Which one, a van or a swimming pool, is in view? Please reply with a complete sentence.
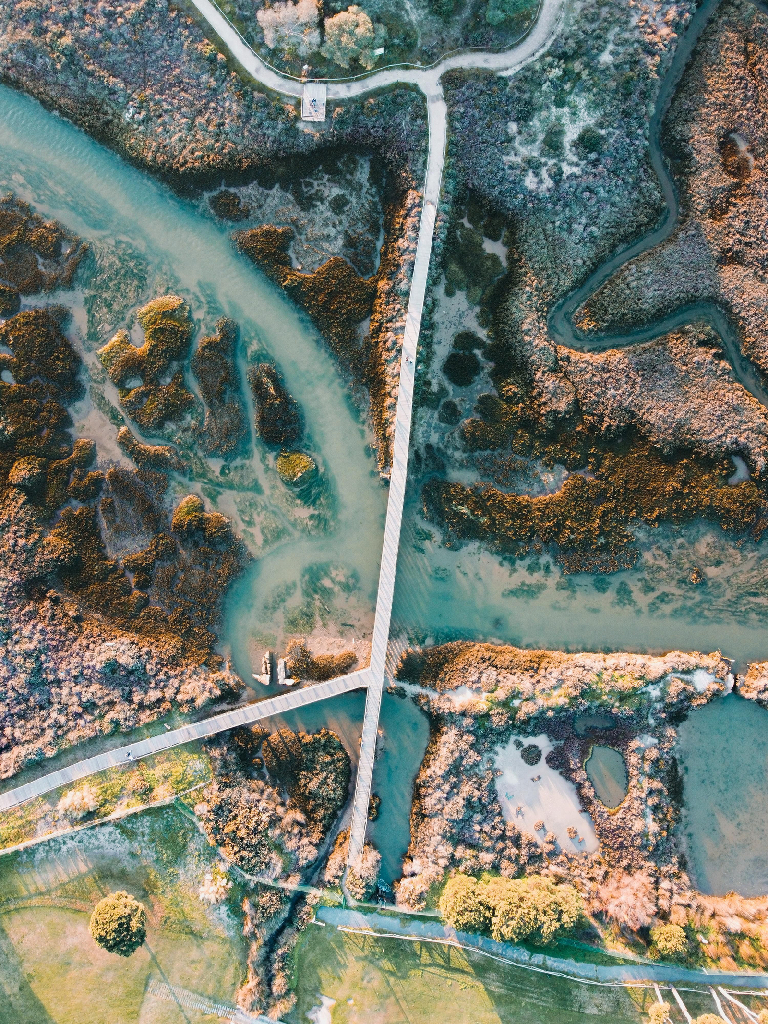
I can see a swimming pool in this picture.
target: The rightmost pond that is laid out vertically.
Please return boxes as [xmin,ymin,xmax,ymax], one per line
[677,695,768,898]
